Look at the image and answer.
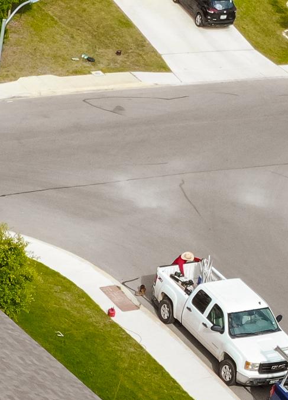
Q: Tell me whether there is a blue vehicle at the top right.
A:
No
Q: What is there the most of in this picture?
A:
paved ground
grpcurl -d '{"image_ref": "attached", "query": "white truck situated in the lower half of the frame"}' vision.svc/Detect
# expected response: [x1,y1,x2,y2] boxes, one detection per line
[152,265,288,392]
